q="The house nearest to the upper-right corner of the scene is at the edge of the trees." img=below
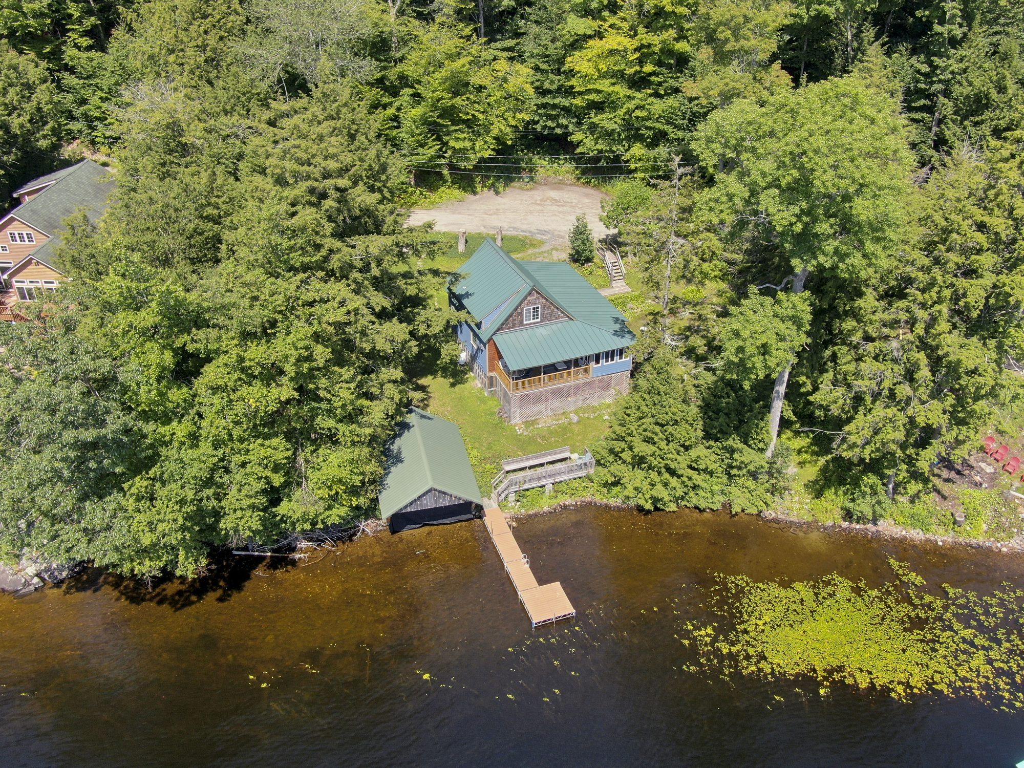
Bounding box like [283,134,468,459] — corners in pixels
[444,238,636,425]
